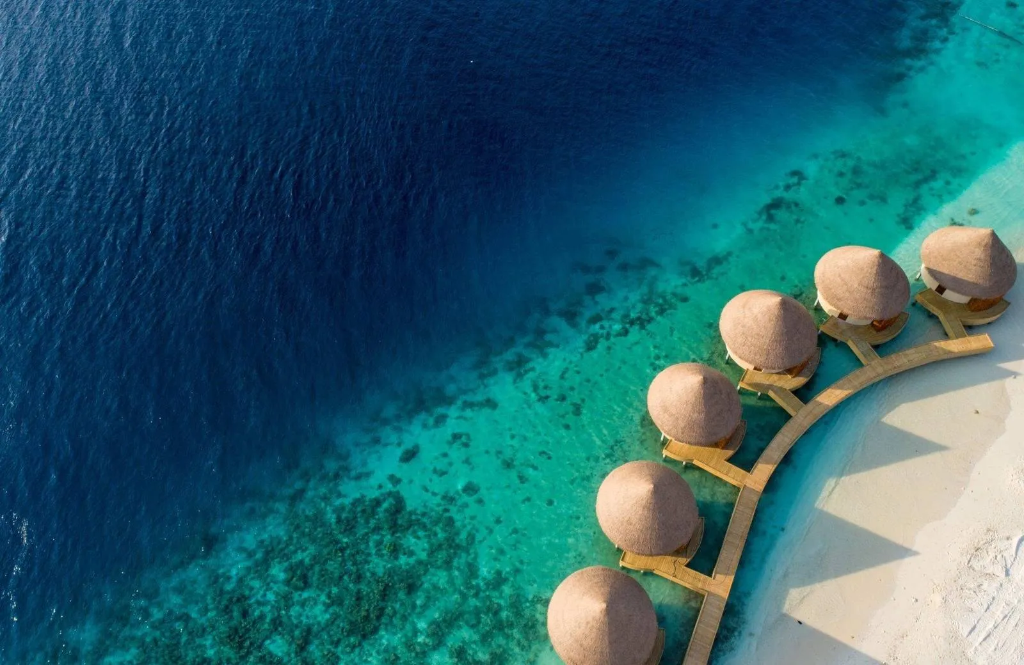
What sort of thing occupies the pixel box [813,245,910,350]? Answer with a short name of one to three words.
shed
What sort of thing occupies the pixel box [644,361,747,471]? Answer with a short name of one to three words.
shed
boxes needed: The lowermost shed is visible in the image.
[548,565,664,665]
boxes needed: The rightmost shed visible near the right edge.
[911,224,1018,325]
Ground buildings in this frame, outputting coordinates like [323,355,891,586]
[721,289,821,402]
[911,224,1018,325]
[548,565,664,665]
[595,458,705,576]
[644,361,747,471]
[813,245,910,350]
